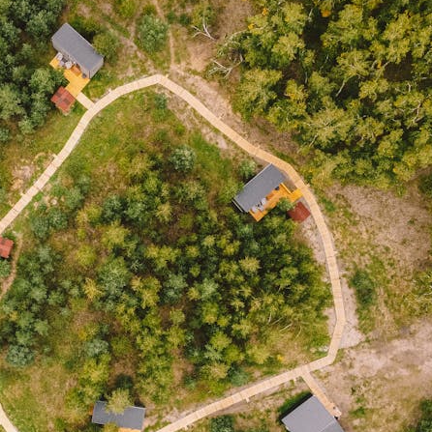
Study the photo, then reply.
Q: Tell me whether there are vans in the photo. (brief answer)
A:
No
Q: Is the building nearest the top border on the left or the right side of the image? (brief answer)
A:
left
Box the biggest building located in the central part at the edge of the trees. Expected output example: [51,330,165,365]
[231,163,286,214]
